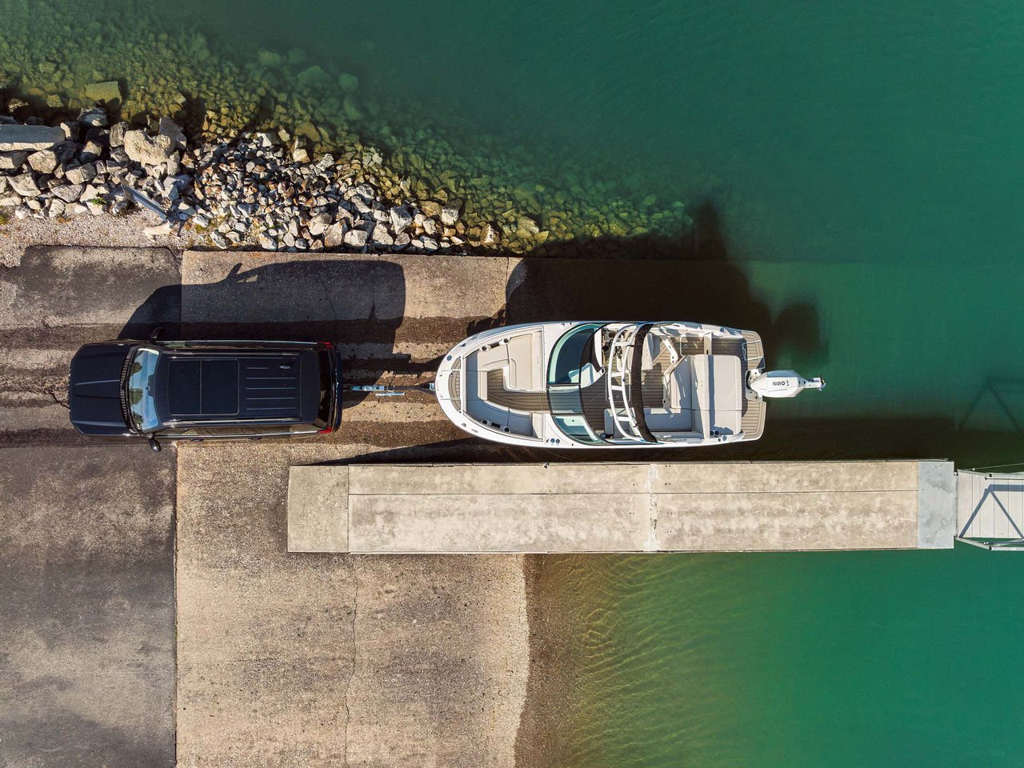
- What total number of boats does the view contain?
1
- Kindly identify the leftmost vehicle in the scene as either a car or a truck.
car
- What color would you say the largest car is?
black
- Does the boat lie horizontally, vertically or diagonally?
horizontally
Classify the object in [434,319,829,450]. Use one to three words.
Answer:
boat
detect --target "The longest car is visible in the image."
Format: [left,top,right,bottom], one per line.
[68,326,346,454]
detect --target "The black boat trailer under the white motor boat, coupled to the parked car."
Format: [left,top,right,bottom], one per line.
[349,378,438,401]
